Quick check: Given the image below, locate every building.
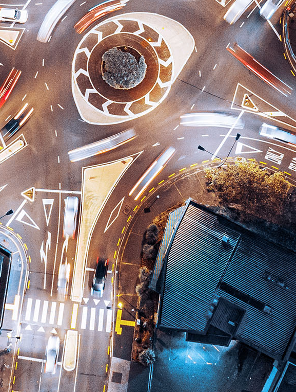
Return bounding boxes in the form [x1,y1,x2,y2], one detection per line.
[0,238,17,330]
[153,197,296,358]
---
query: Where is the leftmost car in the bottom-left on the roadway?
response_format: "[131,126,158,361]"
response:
[45,337,59,369]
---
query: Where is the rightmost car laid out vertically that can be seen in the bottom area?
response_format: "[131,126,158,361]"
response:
[92,260,106,291]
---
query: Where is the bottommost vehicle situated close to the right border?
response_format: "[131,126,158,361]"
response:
[263,125,296,144]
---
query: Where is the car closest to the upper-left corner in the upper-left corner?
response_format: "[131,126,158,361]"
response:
[0,8,28,22]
